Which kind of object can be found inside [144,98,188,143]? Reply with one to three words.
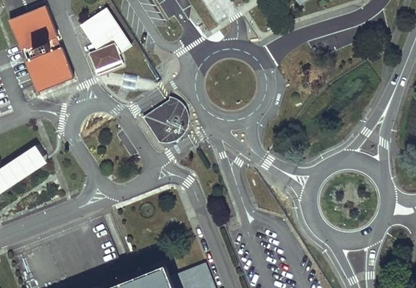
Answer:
building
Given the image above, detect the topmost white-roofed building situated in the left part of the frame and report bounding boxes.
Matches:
[80,7,132,52]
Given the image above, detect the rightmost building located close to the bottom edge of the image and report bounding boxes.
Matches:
[178,262,216,288]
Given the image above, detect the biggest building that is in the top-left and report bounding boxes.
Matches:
[8,4,74,93]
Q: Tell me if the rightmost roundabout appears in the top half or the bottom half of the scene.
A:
bottom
